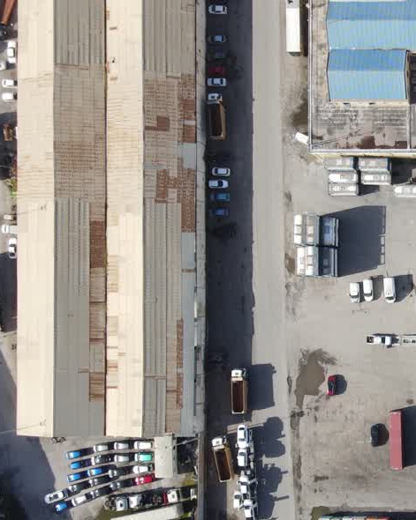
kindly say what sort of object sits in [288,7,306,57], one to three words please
trailer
